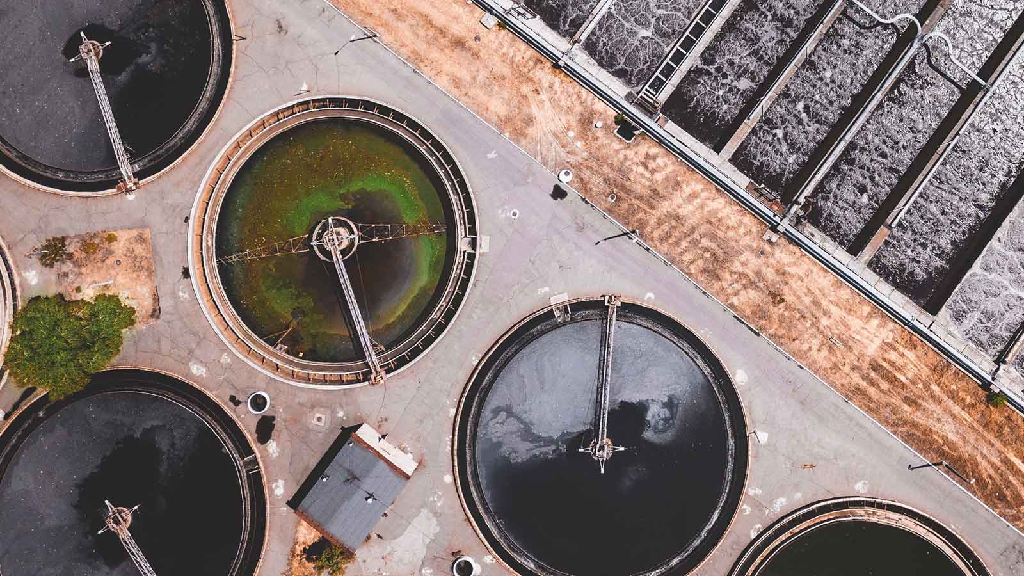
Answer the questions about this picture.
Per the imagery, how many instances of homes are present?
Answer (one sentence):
There is 1 home in the image.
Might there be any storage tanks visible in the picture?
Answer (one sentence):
Yes, the image includes a storage tank.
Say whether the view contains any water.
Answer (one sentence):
Yes, water can be seen from above here.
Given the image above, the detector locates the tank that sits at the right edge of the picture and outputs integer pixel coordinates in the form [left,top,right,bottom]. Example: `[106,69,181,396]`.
[730,496,991,576]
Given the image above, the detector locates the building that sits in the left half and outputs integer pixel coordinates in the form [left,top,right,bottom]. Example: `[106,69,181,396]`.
[295,425,420,555]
